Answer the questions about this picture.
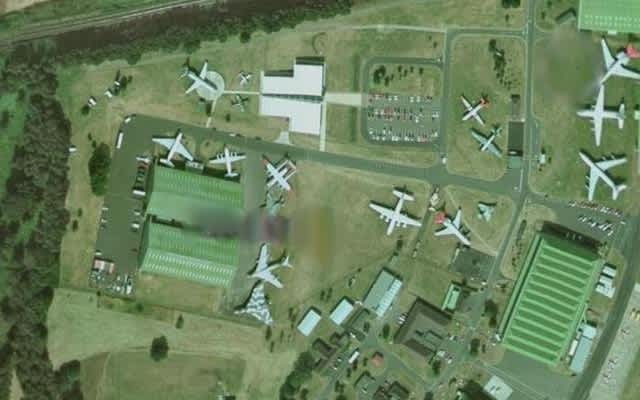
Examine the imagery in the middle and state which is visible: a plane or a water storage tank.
plane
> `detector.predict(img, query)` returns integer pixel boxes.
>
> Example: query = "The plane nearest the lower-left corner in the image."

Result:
[234,279,272,320]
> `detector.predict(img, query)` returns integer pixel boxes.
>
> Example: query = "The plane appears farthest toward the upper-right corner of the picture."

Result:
[601,37,640,83]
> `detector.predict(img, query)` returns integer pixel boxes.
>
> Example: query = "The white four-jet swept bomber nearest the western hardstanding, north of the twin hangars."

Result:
[151,132,195,165]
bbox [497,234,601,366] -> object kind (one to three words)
hangar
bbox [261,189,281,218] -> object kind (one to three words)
airplane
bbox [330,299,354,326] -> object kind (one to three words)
shed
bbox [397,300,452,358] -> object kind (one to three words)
building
